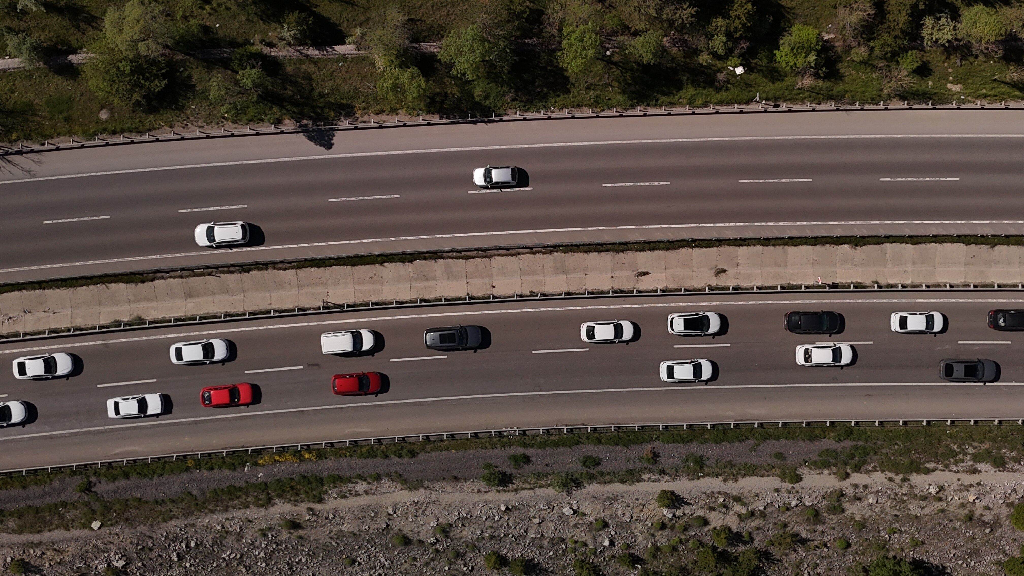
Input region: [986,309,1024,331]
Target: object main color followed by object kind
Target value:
black car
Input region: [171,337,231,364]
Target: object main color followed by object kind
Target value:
white car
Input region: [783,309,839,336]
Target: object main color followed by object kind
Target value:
black car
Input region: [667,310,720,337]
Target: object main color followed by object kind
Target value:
white car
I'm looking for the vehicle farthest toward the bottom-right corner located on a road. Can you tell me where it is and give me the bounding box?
[938,357,995,384]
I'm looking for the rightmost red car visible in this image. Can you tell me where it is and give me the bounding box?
[332,371,381,396]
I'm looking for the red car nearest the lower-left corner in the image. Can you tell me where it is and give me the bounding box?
[201,382,254,408]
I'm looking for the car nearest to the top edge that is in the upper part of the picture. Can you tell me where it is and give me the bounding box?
[473,164,518,189]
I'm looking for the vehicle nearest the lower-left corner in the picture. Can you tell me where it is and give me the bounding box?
[0,399,29,426]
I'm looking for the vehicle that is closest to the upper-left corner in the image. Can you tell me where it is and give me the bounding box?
[195,220,250,247]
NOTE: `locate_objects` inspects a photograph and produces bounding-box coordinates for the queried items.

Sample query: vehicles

[659,358,712,384]
[667,310,720,337]
[795,342,852,369]
[783,309,839,336]
[986,309,1024,331]
[938,357,995,384]
[424,323,482,351]
[201,382,254,408]
[171,337,231,364]
[580,318,634,344]
[321,328,376,354]
[332,371,381,396]
[473,164,518,189]
[0,399,29,426]
[14,351,76,379]
[108,393,165,418]
[195,220,250,247]
[890,309,942,335]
